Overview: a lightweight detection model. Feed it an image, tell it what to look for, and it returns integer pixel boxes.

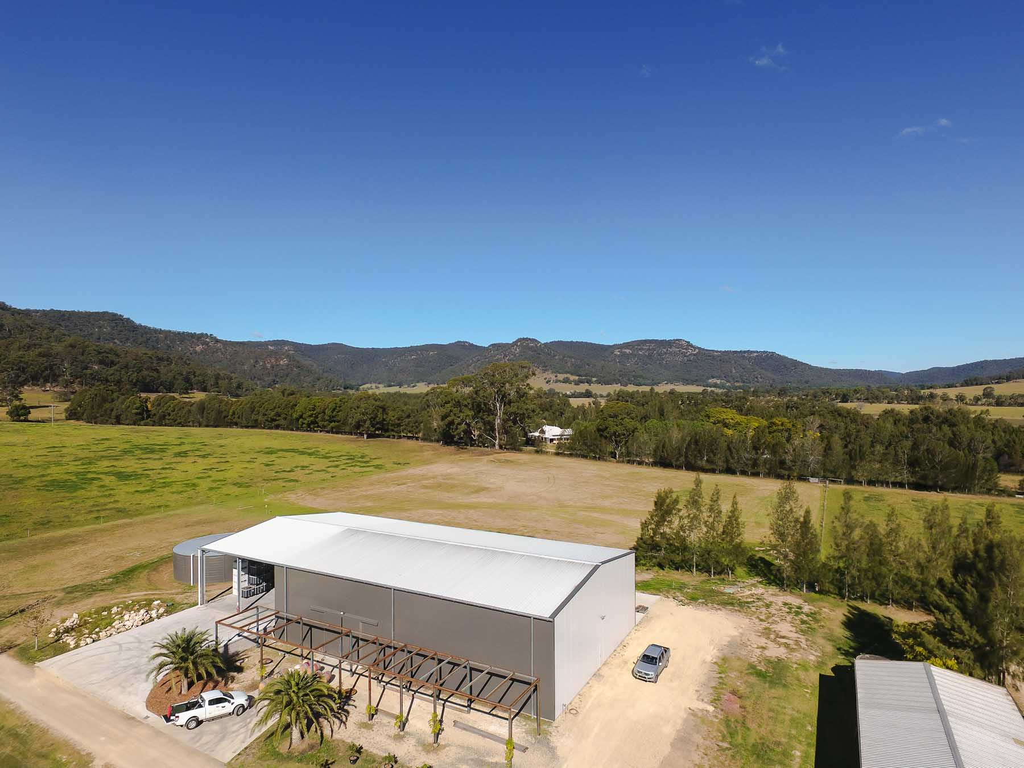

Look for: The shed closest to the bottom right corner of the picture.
[852,658,1024,768]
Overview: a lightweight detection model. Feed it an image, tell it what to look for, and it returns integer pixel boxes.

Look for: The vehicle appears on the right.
[633,645,670,683]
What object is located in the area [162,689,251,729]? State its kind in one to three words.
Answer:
truck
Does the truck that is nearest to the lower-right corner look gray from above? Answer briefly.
Yes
